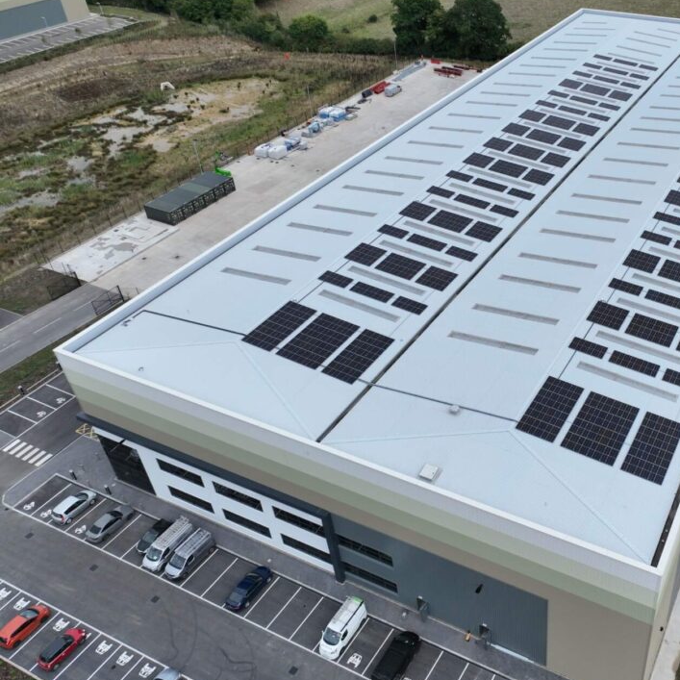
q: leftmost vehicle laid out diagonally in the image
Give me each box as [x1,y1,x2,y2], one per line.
[0,601,51,653]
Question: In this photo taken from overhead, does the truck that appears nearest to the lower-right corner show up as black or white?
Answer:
black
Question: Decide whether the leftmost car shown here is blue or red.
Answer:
red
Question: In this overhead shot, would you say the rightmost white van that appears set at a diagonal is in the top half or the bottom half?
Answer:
bottom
